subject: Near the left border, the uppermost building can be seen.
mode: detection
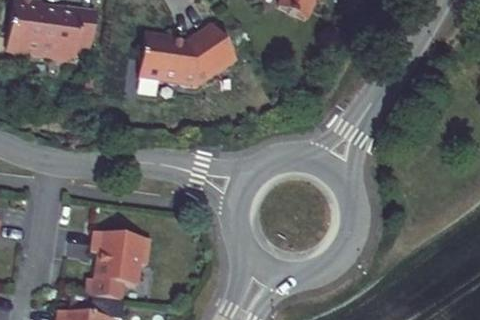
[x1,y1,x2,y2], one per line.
[8,0,96,64]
